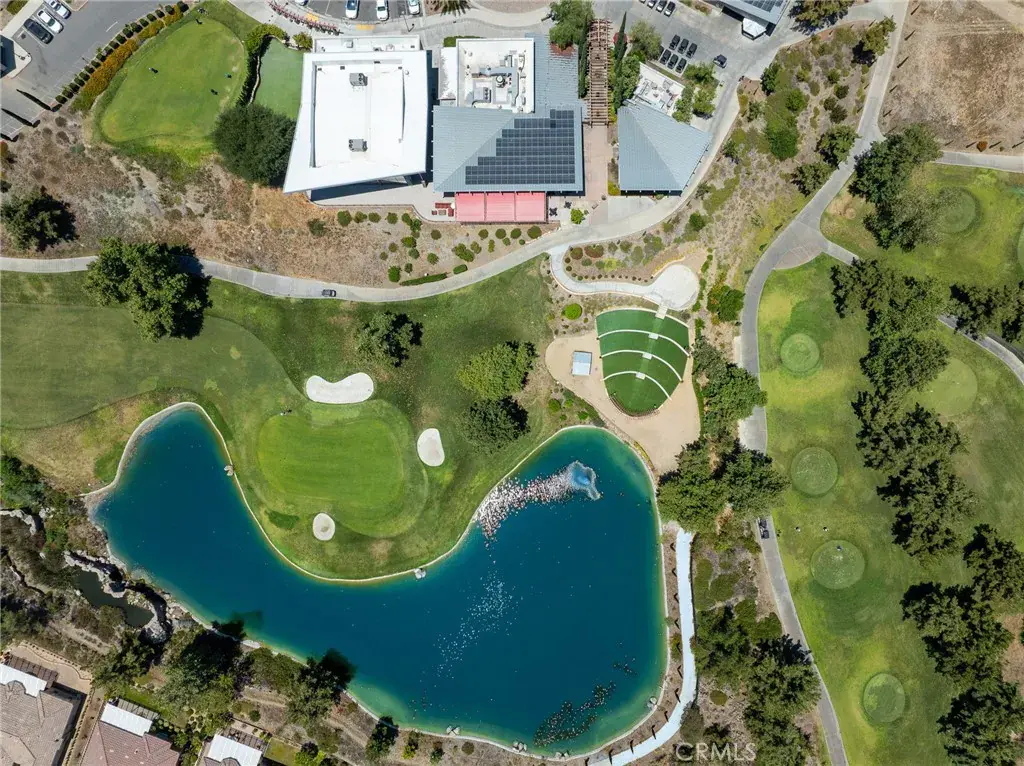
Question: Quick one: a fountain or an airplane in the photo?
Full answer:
Of the two, only a fountain appears.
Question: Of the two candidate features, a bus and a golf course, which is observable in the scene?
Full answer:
This aerial view contains a golf course.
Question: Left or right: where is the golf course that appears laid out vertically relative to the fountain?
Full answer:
The golf course that appears laid out vertically is to the right of the fountain.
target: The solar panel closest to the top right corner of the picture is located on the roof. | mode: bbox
[738,0,779,22]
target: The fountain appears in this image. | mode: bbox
[561,456,601,502]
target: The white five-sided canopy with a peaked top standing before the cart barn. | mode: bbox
[732,18,766,54]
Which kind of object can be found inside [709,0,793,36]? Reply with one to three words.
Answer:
building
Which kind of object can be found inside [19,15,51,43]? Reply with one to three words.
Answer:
car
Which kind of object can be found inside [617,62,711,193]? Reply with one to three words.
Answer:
building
